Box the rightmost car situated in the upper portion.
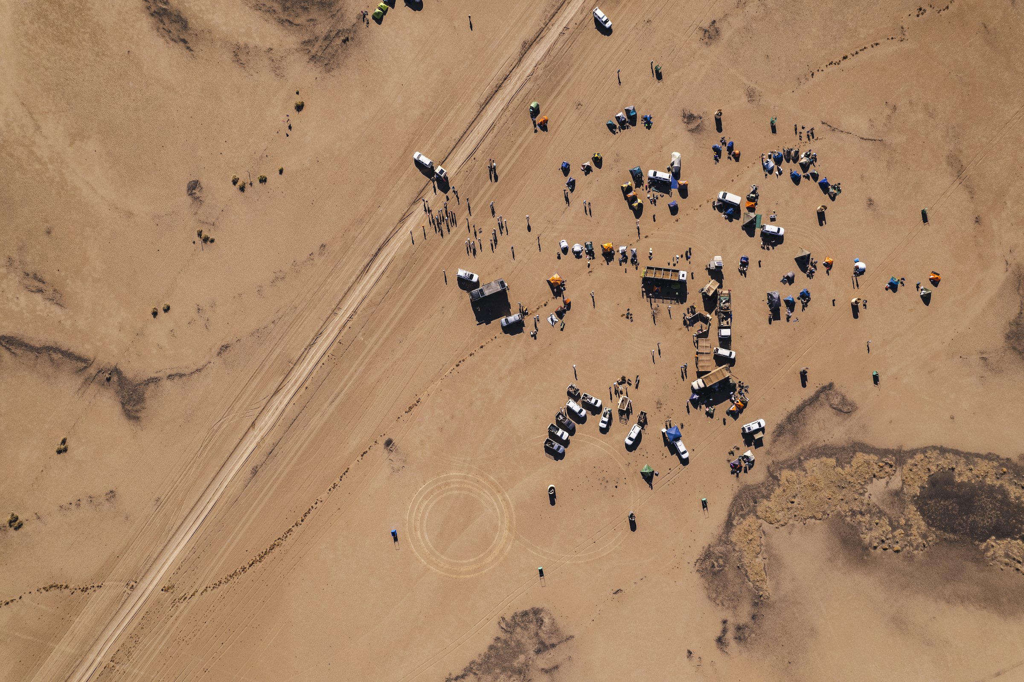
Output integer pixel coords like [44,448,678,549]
[758,223,784,236]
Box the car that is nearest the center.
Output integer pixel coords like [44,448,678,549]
[499,312,526,327]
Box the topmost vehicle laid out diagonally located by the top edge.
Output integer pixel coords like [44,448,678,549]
[592,5,613,30]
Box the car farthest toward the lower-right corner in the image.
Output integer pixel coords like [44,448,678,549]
[740,418,765,433]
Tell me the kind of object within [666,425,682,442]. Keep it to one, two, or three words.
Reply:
gazebo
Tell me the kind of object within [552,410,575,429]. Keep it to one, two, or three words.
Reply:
vehicle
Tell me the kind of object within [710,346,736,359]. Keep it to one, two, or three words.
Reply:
vehicle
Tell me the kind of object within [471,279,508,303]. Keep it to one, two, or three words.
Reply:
truck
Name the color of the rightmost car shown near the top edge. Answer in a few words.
white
